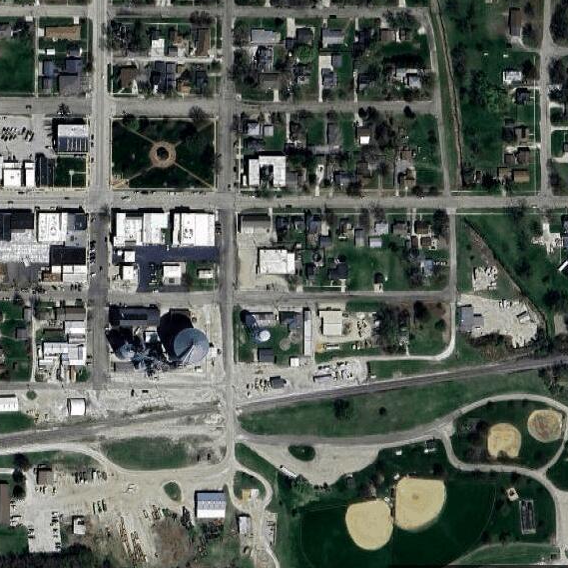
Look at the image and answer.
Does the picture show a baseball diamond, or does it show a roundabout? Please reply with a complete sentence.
I can see a baseball diamond in this picture.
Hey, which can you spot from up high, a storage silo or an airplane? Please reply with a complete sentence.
Of the two, only a storage silo appears.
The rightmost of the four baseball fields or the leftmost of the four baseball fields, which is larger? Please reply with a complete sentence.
The leftmost of the four baseball fields is bigger than the rightmost of the four baseball fields.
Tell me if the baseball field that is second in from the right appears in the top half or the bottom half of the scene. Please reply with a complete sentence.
You can find the baseball field that is second in from the right in the bottom half.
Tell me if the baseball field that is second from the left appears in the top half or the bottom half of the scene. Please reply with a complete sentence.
The baseball field that is second from the left sits in the bottom half of the picture.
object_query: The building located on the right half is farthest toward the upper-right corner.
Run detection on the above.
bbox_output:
[509,7,523,35]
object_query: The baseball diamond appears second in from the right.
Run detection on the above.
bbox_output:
[489,423,521,460]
